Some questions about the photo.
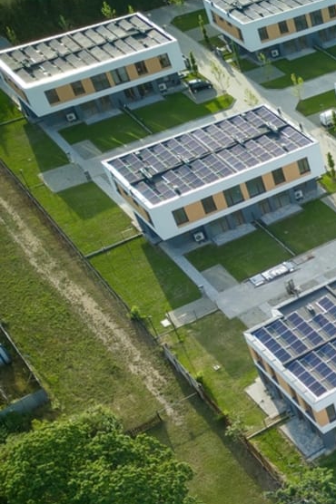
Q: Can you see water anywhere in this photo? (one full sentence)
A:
No, there's no water in this view.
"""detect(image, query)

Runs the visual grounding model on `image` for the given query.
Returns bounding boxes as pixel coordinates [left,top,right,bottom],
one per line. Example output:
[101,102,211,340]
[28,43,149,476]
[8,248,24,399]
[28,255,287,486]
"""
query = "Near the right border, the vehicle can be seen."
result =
[317,102,336,124]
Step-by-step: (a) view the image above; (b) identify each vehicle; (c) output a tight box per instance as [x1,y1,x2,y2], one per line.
[317,102,336,124]
[184,79,214,94]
